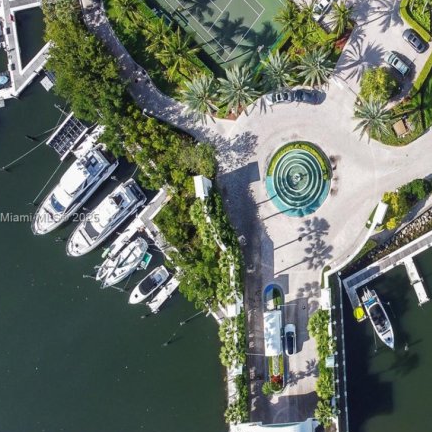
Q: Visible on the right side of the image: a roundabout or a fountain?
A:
fountain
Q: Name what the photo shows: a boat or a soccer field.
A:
boat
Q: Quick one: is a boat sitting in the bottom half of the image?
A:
Yes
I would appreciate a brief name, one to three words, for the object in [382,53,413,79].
car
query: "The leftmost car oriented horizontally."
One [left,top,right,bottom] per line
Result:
[266,90,295,105]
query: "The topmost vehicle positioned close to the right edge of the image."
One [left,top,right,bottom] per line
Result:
[402,28,428,56]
